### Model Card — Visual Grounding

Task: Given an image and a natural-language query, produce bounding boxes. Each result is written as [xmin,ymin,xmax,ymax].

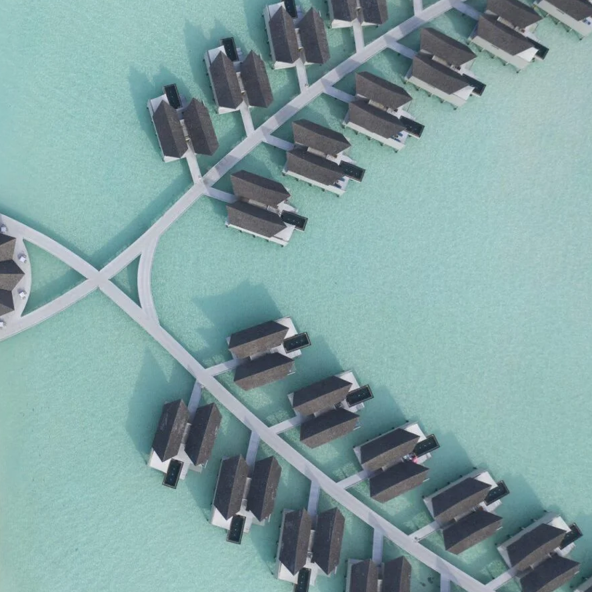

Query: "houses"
[339,549,411,592]
[321,0,386,36]
[282,366,368,448]
[277,119,361,198]
[221,171,304,248]
[206,450,282,538]
[525,0,592,44]
[485,504,580,592]
[345,416,433,502]
[460,0,543,77]
[259,0,330,76]
[269,501,345,591]
[223,315,307,391]
[201,39,271,120]
[145,397,222,483]
[413,462,503,554]
[395,29,480,113]
[145,85,217,167]
[336,72,420,155]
